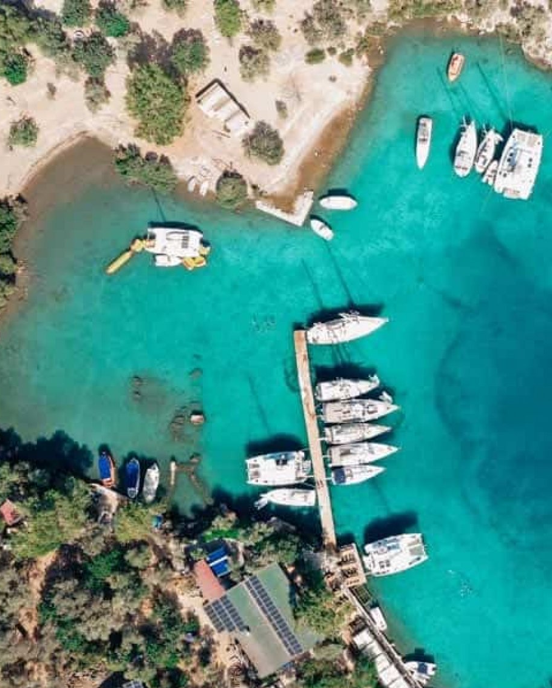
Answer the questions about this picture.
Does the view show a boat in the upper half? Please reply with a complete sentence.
Yes, the scene does show a boat in the upper half.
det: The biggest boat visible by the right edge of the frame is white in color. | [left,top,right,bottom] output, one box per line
[496,129,542,204]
